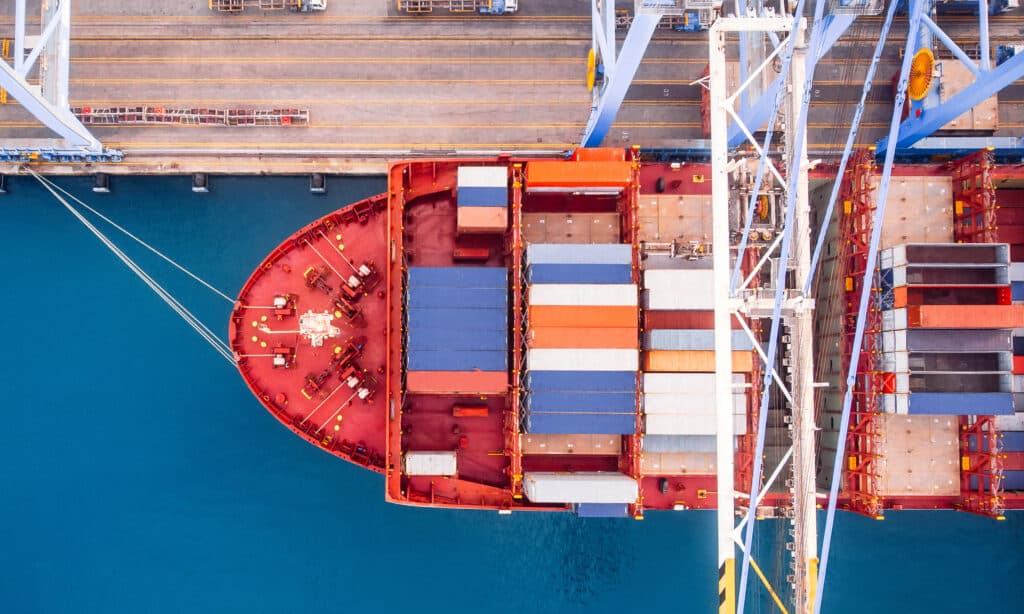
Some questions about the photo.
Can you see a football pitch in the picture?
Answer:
No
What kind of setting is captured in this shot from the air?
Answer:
port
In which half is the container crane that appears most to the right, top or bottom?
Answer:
top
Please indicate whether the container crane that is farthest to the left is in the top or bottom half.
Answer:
top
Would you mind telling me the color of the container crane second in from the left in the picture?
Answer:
white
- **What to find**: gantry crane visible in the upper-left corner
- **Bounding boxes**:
[0,0,131,160]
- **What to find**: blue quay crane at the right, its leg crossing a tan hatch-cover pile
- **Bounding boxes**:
[863,0,1024,160]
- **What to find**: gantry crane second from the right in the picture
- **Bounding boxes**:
[571,0,927,614]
